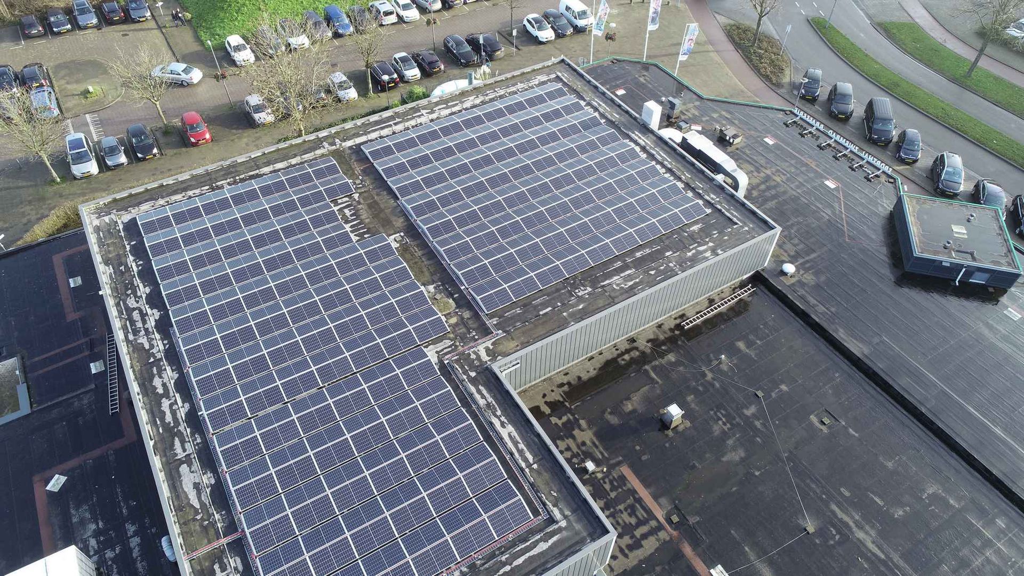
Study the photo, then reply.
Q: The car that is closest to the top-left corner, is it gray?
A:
Yes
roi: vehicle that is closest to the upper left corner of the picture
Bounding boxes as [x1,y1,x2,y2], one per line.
[18,11,46,35]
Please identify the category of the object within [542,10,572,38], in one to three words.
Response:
car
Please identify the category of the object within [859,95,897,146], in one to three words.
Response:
vehicle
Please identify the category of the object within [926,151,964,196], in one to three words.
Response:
car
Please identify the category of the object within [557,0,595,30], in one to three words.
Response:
vehicle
